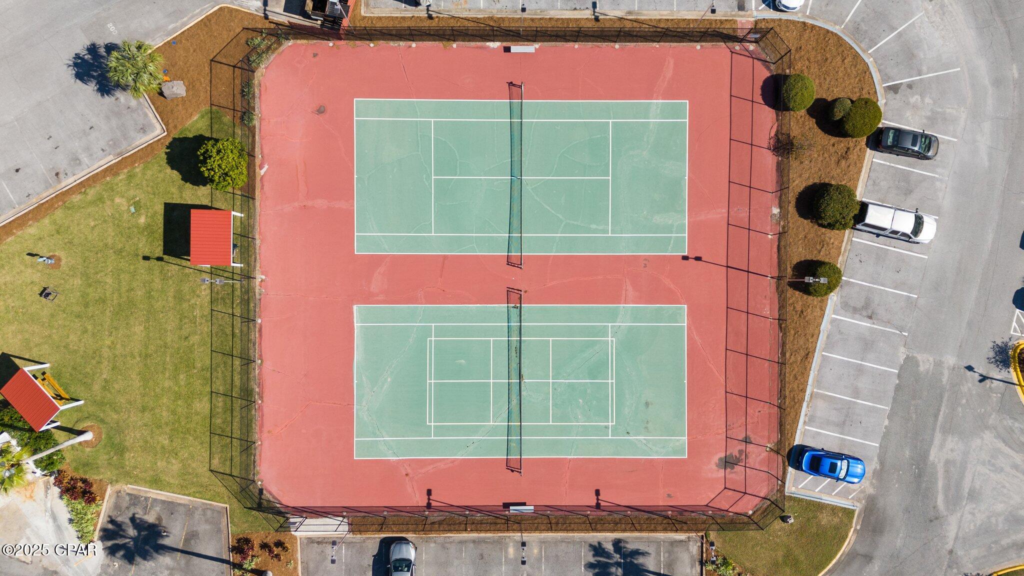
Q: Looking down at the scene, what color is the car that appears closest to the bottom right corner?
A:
blue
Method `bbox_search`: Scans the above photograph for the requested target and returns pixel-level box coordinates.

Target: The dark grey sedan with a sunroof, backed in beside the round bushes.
[874,125,939,161]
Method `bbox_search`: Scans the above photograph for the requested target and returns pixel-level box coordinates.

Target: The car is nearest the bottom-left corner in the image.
[387,539,418,576]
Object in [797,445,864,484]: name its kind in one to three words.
car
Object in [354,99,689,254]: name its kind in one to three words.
tennis court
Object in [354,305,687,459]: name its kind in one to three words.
tennis court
